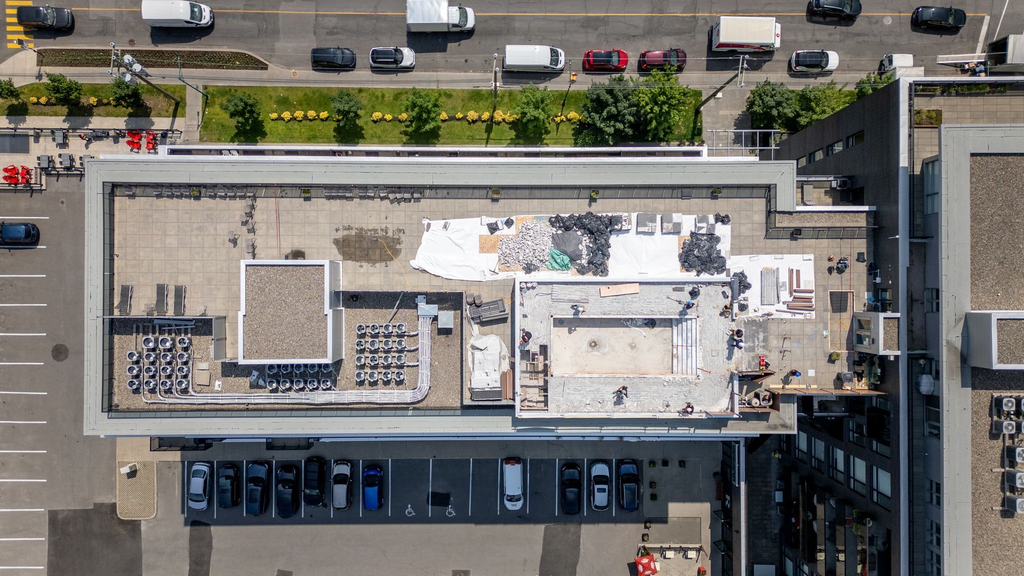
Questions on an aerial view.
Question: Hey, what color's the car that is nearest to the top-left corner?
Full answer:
The color of the car that is nearest to the top-left corner is black.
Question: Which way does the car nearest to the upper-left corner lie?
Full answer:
In this picture, the car nearest to the upper-left corner is oriented from left to right.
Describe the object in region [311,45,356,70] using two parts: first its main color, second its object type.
black car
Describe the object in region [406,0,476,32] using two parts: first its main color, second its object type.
white truck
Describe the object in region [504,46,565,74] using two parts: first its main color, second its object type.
white van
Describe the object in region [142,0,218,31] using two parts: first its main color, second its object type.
white van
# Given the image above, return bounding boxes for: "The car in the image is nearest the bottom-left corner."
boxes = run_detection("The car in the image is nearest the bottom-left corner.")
[186,461,213,510]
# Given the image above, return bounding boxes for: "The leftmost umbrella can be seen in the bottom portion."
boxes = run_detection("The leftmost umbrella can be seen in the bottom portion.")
[635,552,656,576]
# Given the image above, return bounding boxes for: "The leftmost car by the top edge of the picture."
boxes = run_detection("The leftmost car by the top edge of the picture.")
[18,4,74,31]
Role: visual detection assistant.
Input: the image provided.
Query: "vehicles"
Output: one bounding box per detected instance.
[0,222,43,246]
[559,462,583,514]
[311,45,356,70]
[142,0,218,31]
[275,465,300,519]
[329,460,353,511]
[583,48,627,73]
[806,0,859,23]
[875,50,924,80]
[186,461,213,510]
[706,13,777,52]
[640,47,686,72]
[360,464,384,511]
[301,457,326,506]
[369,45,415,70]
[790,48,837,73]
[406,0,476,32]
[589,460,612,511]
[244,461,271,516]
[217,463,242,509]
[504,46,565,74]
[911,5,964,31]
[501,455,525,507]
[18,4,74,31]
